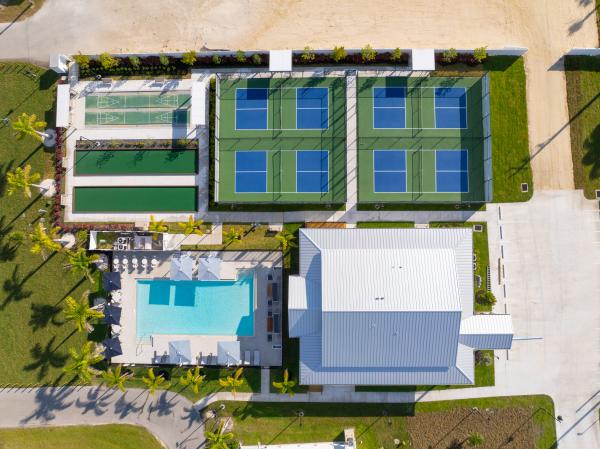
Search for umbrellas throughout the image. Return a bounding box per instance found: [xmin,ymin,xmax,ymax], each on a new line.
[169,341,192,363]
[217,341,240,363]
[103,271,123,291]
[169,255,194,280]
[103,303,124,324]
[101,335,125,359]
[197,256,222,280]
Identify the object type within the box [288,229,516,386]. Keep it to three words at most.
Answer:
building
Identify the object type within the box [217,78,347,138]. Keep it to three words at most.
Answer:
sports court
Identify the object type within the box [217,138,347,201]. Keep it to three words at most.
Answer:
sports court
